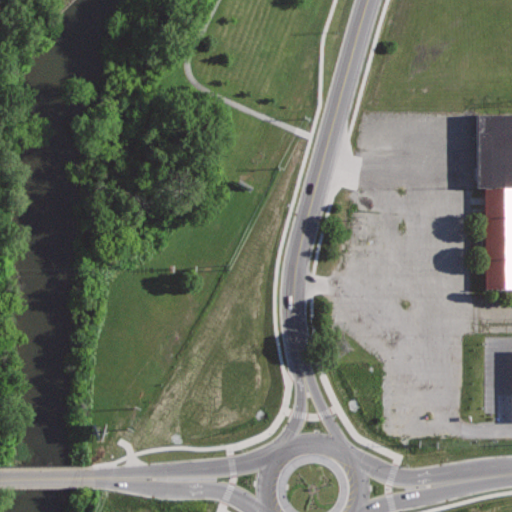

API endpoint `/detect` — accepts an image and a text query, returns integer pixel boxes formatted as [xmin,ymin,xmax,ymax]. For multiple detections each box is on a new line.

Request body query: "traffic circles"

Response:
[218,392,406,512]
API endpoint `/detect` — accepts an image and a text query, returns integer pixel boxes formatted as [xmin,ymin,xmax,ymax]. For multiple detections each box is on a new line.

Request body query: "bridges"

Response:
[7,468,86,489]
